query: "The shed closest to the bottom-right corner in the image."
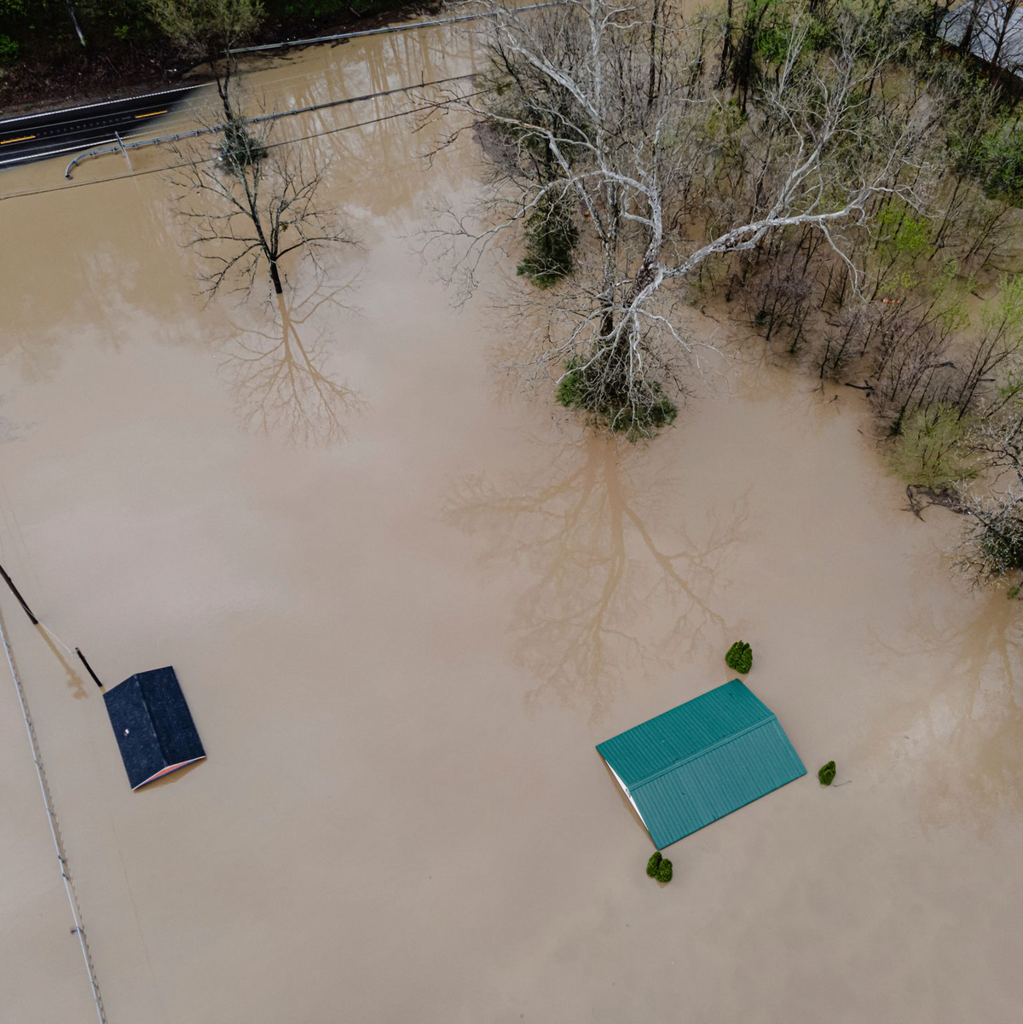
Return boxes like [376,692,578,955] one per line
[596,679,807,851]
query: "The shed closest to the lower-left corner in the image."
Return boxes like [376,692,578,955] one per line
[102,666,206,792]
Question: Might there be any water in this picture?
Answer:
Yes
